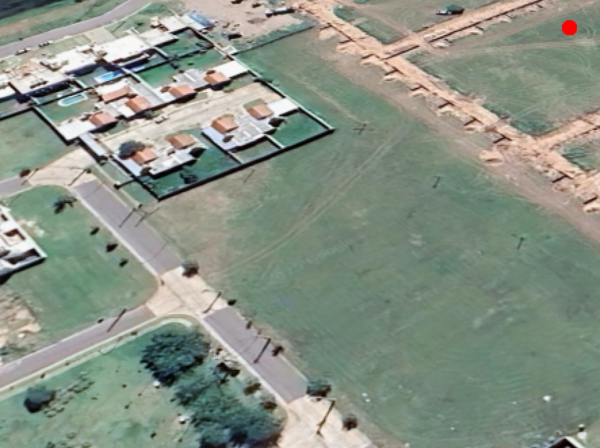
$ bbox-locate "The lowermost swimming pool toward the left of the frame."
[60,94,88,106]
